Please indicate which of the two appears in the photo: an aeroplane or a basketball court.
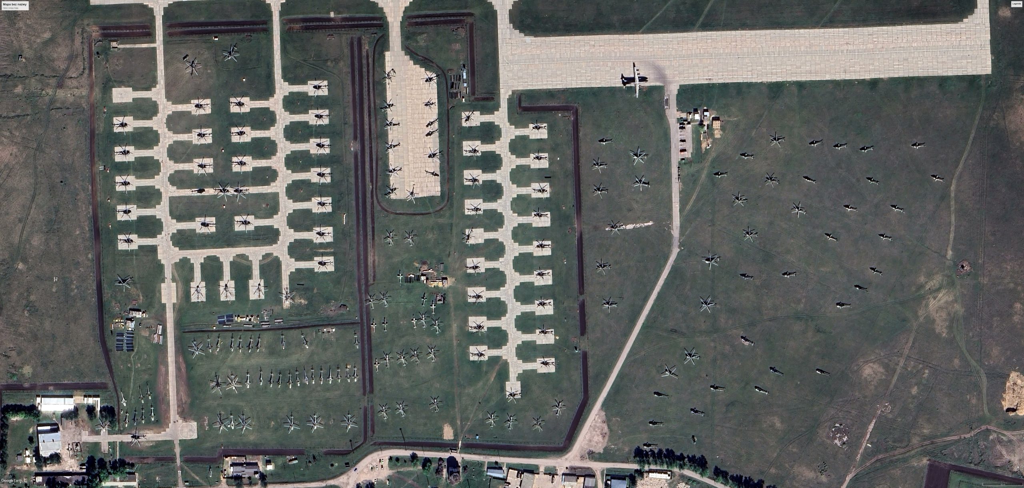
aeroplane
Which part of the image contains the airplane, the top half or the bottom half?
top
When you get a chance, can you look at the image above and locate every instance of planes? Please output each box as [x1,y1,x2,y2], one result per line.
[621,67,648,97]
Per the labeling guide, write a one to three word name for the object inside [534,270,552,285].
helipad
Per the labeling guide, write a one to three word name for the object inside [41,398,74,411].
hangar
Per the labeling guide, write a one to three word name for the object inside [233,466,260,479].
house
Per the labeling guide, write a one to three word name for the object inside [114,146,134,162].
helipad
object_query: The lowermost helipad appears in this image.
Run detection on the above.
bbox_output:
[178,422,197,440]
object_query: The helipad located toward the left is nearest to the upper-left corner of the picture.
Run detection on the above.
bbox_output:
[112,87,132,103]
